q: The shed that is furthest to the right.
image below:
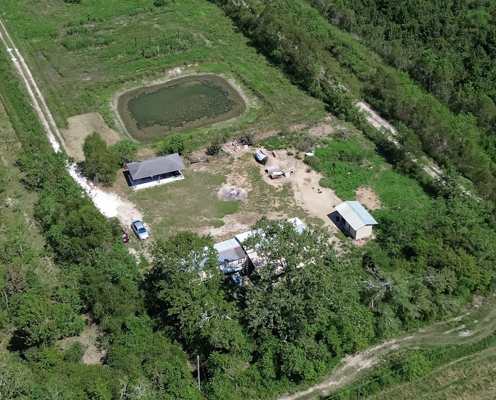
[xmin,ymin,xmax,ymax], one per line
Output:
[337,201,377,239]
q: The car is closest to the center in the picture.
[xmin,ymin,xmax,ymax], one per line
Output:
[132,218,149,237]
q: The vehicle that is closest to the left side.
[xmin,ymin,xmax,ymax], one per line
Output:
[109,224,125,243]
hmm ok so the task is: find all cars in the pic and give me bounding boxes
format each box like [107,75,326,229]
[109,224,125,243]
[132,218,149,237]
